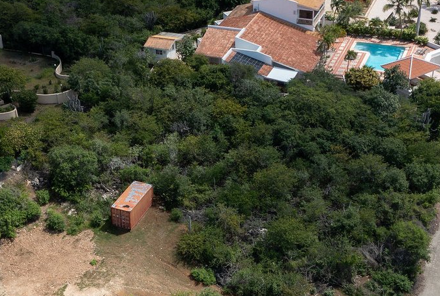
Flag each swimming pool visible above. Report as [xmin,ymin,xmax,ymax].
[353,43,404,69]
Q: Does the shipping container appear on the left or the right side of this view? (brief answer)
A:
left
